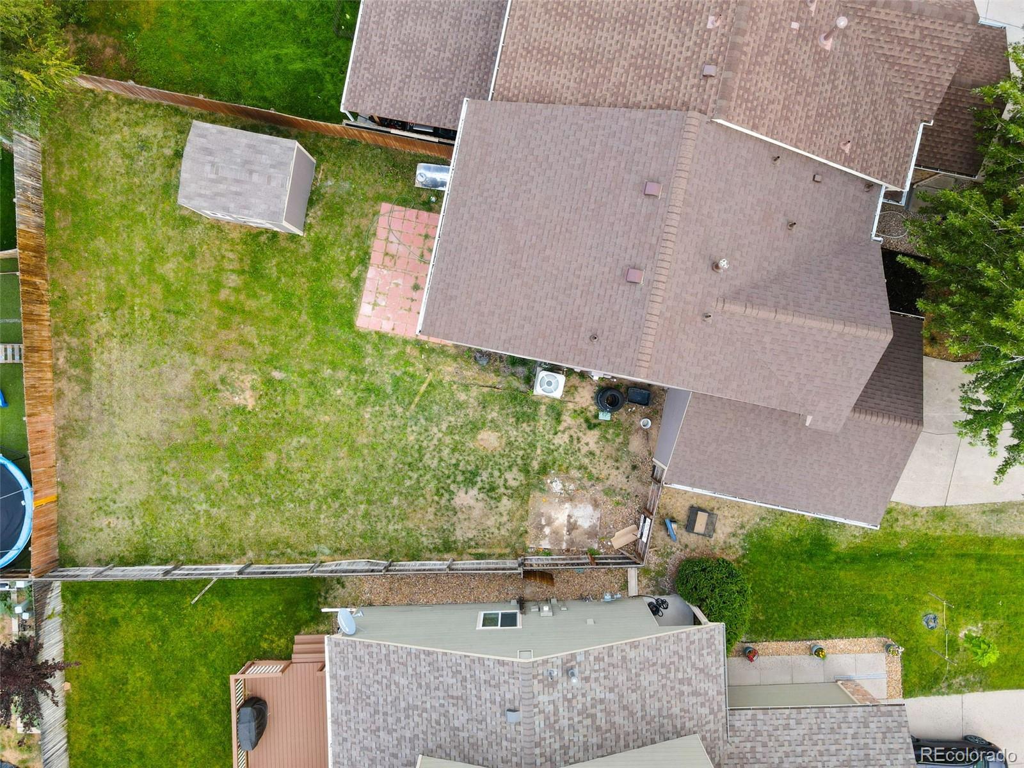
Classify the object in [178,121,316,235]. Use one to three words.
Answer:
shed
